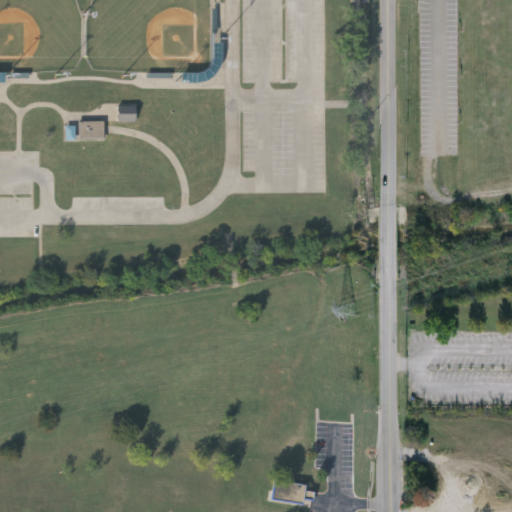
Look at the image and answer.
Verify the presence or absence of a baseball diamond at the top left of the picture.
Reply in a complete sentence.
Yes, I can see a baseball diamond at the top left of the picture.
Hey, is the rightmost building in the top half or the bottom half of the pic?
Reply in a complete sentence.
Seen from above, the rightmost building lies in the bottom half of the view.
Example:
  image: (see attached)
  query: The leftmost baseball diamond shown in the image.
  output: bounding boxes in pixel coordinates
[0,0,82,71]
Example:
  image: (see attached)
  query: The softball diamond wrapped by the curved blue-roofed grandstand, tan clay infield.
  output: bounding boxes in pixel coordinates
[87,0,210,72]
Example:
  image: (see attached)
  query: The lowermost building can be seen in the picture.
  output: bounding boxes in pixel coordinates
[272,482,315,504]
